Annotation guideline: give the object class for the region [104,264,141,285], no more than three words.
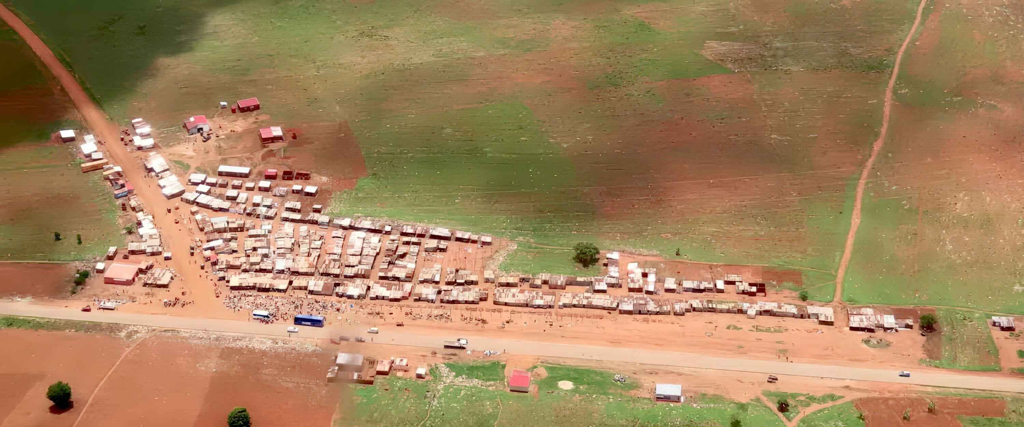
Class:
building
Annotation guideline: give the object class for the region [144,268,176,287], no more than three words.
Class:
shed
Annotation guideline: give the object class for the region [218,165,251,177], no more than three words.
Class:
house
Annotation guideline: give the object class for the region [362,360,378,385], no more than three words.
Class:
shed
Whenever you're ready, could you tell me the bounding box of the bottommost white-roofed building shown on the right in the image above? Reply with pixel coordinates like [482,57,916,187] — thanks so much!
[656,384,681,403]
